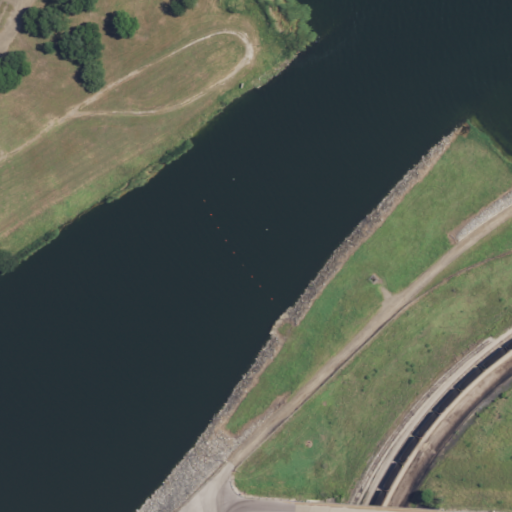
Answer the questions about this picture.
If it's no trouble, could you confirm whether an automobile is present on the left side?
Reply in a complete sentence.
No, on the left side there is no automobile.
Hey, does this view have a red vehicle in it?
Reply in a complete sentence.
No, there isn't any red vehicle down there.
